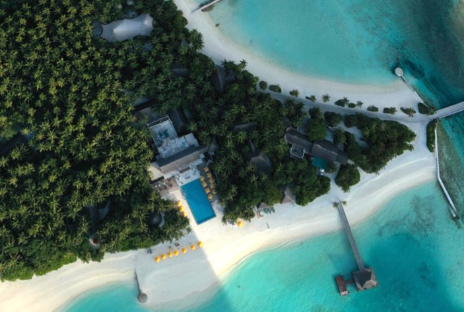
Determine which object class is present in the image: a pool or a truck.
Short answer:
pool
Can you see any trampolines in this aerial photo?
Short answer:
No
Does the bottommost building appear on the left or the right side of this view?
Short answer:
right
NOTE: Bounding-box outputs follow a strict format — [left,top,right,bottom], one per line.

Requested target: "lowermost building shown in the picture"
[349,266,379,294]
